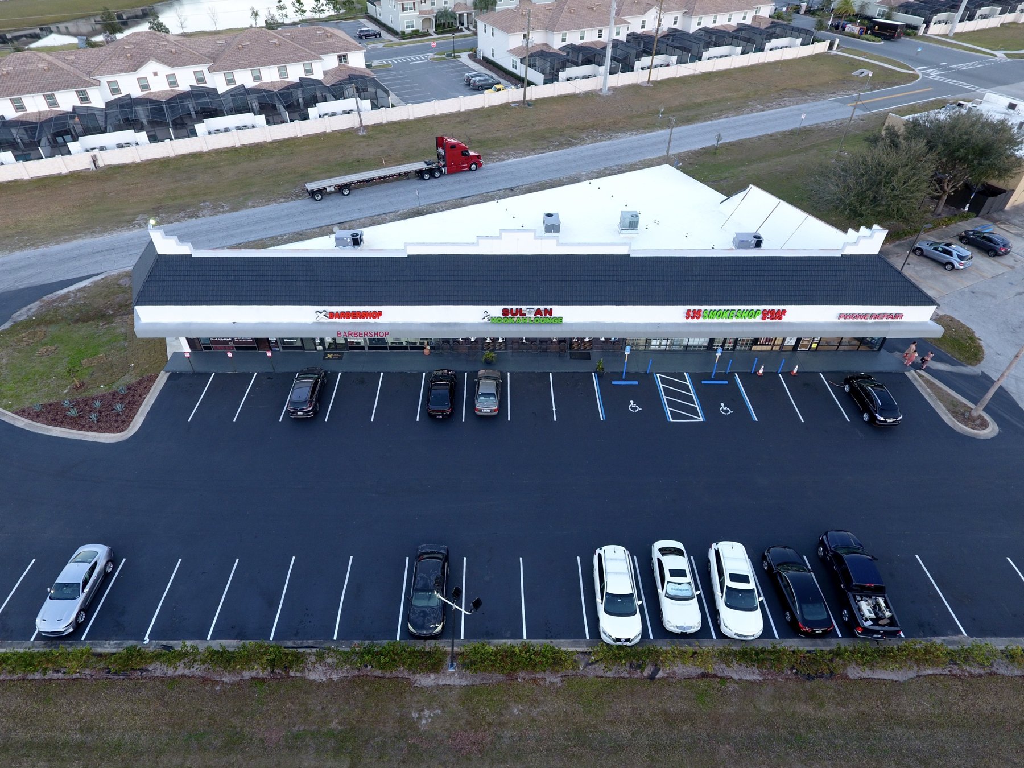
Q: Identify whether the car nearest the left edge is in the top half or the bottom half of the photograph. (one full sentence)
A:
The bottom half of the photo is where the car nearest the left edge is.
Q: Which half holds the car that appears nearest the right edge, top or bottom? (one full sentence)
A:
Seen from above, the car that appears nearest the right edge lies in the top half of the view.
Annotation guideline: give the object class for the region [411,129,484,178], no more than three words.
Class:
truck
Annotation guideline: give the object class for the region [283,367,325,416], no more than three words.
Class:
car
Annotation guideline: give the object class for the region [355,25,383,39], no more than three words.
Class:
car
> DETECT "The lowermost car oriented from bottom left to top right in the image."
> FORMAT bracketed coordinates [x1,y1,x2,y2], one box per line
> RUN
[28,544,112,633]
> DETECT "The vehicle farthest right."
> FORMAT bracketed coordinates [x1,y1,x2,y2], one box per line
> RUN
[958,227,1021,258]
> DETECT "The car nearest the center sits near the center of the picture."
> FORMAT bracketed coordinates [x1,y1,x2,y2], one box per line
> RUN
[471,366,505,415]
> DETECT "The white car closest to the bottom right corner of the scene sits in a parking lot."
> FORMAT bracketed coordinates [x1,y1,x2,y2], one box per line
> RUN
[709,543,769,636]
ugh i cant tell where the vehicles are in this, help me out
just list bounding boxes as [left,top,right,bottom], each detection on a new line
[593,547,647,643]
[422,366,457,416]
[400,544,450,635]
[764,545,838,633]
[355,25,383,39]
[958,227,1021,258]
[847,374,906,427]
[861,13,910,38]
[652,544,707,633]
[468,71,501,89]
[471,366,505,415]
[411,129,484,178]
[913,238,975,270]
[28,544,112,633]
[709,543,769,636]
[283,367,325,416]
[819,531,913,642]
